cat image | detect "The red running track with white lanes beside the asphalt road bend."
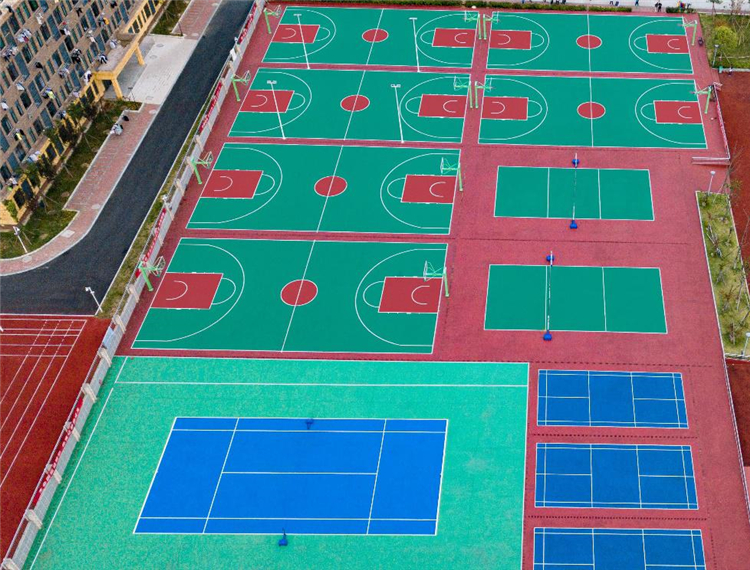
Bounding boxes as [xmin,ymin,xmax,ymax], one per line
[0,316,114,570]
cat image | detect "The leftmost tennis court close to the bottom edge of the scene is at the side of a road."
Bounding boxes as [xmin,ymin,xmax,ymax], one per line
[21,356,529,570]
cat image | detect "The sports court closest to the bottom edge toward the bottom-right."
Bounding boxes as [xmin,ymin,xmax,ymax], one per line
[534,528,705,570]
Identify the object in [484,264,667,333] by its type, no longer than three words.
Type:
sports court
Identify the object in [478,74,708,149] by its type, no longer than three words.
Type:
basketball court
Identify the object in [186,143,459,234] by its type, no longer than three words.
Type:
basketball court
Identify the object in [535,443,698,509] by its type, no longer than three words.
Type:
sports court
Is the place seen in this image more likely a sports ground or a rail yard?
sports ground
